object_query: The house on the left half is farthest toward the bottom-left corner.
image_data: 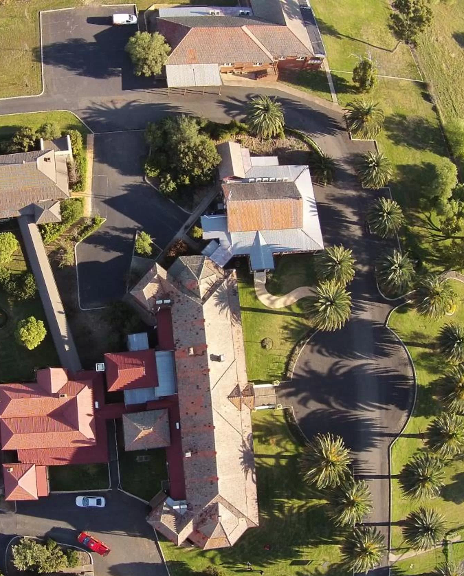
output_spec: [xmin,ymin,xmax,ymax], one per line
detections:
[3,463,51,500]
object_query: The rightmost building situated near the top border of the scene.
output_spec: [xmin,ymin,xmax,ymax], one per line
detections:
[156,0,326,96]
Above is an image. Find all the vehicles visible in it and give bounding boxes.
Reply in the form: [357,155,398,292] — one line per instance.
[75,496,105,510]
[113,10,137,24]
[78,532,111,562]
